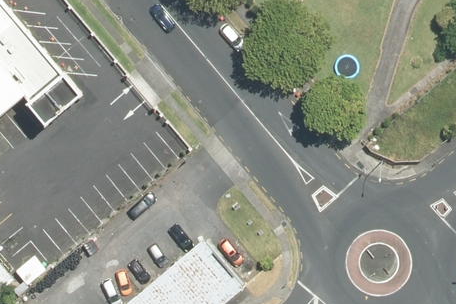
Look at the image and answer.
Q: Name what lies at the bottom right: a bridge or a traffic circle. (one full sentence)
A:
You can see a traffic circle at the bottom right.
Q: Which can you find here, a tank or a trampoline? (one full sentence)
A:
There is a trampoline in the scene.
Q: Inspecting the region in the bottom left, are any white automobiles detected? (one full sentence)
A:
Yes, a white automobile appears in the bottom left.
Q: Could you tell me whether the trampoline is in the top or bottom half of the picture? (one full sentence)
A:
The trampoline sits in the top half of the picture.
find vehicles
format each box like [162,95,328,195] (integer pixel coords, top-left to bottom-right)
[168,224,194,252]
[147,242,170,268]
[149,3,176,34]
[128,258,151,284]
[102,279,122,304]
[218,238,244,267]
[219,22,244,52]
[127,192,156,220]
[116,268,133,296]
